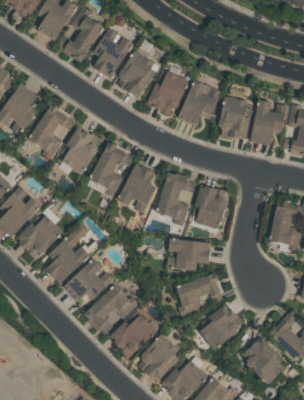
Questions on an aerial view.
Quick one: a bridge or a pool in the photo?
pool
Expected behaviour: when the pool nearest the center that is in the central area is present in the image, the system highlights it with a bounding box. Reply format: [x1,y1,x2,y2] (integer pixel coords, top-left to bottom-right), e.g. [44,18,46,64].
[150,220,170,232]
